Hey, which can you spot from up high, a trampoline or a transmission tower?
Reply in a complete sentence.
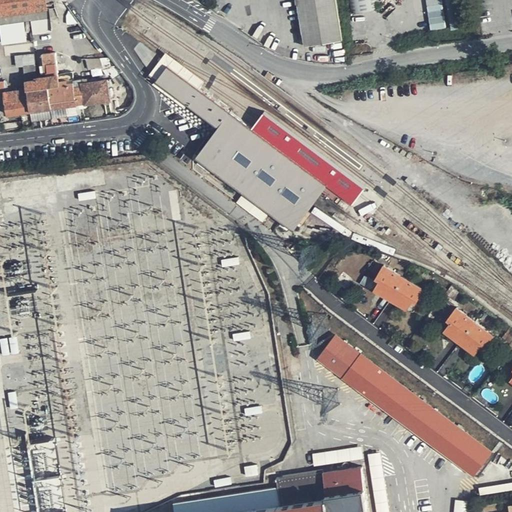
Of the two, only a transmission tower appears.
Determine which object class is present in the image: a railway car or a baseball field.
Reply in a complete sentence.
The one in the frame is a railway car.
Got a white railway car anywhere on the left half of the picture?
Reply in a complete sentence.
No, no white railway car can be made out on the left half of the picture.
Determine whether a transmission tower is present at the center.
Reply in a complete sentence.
Yes, looking at the center, one can make out a transmission tower.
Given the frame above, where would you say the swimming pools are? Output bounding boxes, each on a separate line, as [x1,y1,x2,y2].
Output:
[468,364,486,384]
[480,386,500,404]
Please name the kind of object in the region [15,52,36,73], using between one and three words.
shed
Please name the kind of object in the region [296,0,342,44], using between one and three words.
building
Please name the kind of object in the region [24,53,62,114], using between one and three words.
house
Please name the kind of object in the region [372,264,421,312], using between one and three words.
house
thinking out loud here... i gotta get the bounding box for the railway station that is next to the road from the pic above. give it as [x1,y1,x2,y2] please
[149,53,325,233]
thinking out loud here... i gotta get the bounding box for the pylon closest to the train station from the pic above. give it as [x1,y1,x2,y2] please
[292,250,316,287]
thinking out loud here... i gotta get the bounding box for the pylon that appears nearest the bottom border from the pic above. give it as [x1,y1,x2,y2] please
[317,390,342,436]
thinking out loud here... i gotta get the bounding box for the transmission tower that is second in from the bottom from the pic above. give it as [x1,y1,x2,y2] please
[302,316,326,357]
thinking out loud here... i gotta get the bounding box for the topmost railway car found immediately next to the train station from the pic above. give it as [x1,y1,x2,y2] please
[312,205,353,236]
